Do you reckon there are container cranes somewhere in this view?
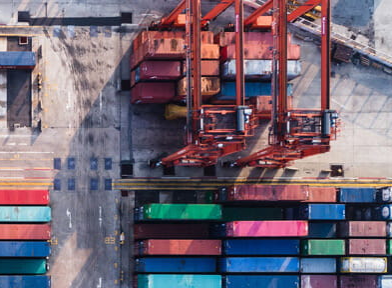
Yes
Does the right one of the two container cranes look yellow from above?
No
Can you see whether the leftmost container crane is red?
Yes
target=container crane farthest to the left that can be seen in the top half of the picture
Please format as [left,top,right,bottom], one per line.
[137,0,251,165]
